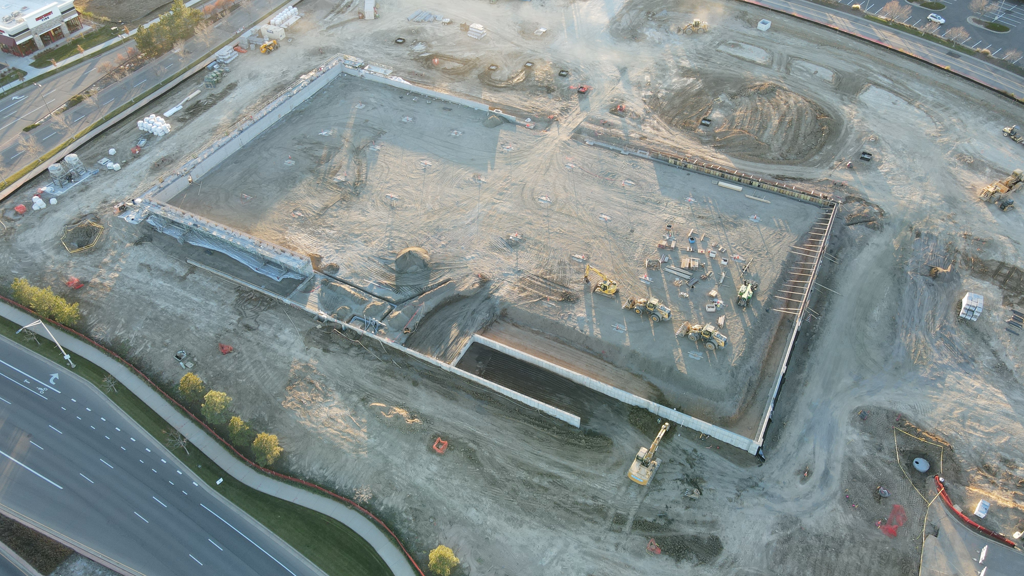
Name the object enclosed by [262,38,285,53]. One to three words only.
work vehicle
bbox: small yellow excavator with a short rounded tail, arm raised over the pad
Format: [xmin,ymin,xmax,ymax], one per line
[581,258,621,301]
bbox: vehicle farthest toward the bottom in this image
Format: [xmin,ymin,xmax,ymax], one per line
[629,408,675,485]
